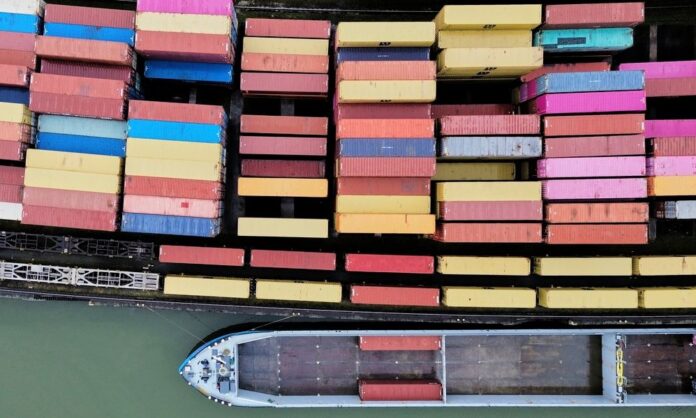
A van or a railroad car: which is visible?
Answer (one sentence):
Looking from above, you can make out a railroad car.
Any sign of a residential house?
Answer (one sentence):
No, there isn't any residential house down there.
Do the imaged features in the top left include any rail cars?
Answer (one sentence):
No, no rail car can be made out in the top left.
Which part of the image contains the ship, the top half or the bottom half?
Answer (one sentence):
It is in the bottom half that the ship appears.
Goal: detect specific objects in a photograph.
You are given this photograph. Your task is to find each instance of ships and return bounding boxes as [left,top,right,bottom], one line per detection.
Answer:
[177,322,696,407]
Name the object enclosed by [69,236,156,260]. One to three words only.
rail car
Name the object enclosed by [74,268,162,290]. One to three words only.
rail car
